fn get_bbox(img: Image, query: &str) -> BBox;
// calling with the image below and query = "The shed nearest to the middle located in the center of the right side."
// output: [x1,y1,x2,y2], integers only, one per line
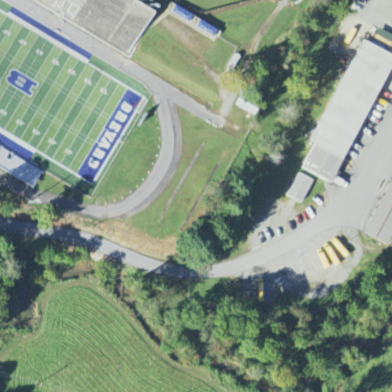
[286,171,316,204]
